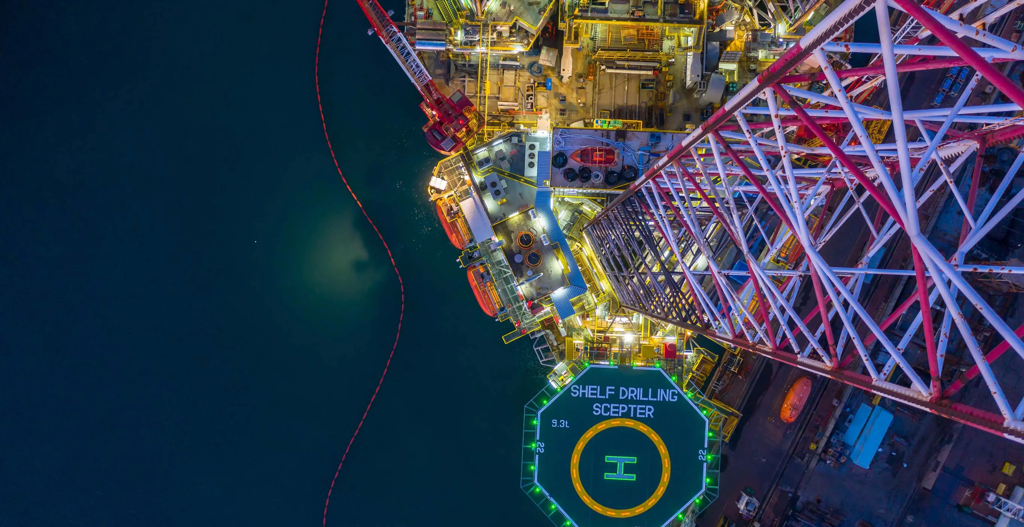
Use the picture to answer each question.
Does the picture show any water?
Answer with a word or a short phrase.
Yes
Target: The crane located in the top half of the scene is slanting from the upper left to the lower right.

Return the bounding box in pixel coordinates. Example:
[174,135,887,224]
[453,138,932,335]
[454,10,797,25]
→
[363,0,486,159]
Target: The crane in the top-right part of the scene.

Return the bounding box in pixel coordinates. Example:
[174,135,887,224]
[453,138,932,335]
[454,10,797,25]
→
[778,0,946,173]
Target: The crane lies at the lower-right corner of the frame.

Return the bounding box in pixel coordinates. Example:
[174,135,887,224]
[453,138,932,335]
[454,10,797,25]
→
[951,483,1024,525]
